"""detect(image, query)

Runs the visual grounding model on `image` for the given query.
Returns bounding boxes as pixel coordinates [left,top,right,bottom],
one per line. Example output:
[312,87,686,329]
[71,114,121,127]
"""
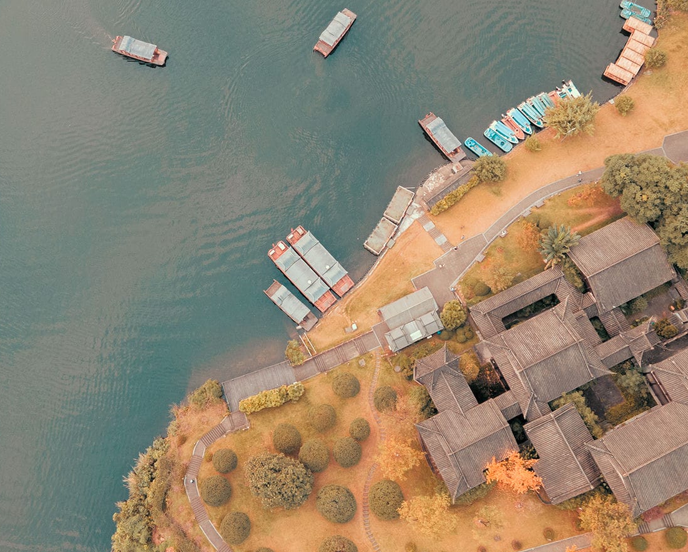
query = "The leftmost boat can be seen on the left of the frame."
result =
[110,33,168,63]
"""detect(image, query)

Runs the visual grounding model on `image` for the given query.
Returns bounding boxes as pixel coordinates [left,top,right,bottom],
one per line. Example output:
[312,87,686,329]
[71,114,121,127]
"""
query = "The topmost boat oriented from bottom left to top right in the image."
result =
[314,9,353,55]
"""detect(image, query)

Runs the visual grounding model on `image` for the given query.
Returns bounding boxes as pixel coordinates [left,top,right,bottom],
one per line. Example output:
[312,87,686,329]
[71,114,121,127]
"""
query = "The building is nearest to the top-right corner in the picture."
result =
[566,217,675,313]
